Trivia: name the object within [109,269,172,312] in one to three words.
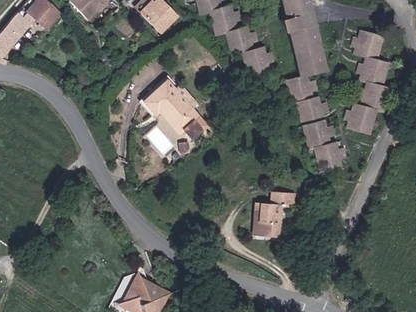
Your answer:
building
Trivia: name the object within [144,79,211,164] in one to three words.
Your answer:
house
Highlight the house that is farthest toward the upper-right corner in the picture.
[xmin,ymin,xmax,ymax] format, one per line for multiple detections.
[350,30,384,59]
